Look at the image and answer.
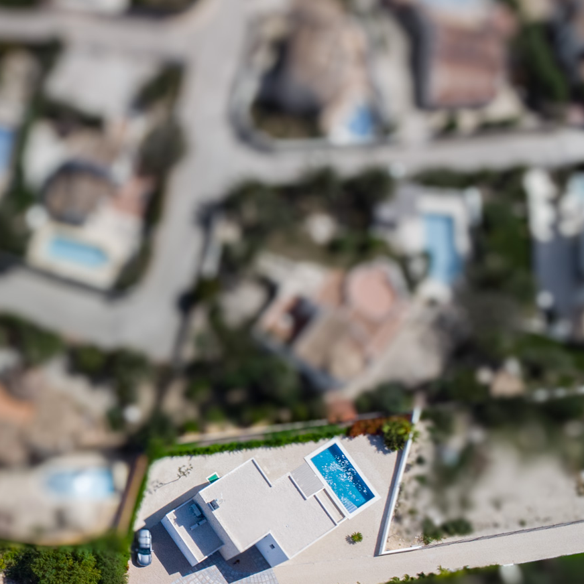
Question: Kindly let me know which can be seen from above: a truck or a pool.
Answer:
pool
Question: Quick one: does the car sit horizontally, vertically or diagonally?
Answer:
vertically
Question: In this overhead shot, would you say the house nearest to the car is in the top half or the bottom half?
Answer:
bottom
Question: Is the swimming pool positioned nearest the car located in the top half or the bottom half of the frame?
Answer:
bottom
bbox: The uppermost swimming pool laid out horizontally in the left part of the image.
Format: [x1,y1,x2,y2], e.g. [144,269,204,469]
[47,233,110,270]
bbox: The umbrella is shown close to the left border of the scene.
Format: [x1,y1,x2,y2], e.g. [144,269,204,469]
[26,208,49,229]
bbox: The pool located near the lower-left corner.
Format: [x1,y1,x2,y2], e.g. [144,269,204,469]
[40,463,123,501]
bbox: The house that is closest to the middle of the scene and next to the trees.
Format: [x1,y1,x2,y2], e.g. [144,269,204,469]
[266,267,402,386]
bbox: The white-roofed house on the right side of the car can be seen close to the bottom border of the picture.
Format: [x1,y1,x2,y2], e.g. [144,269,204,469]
[162,459,337,567]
